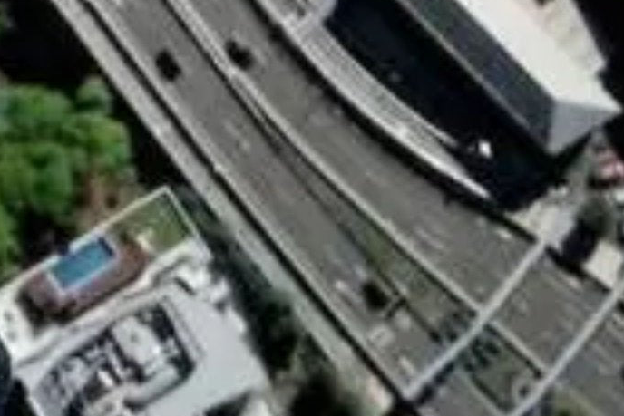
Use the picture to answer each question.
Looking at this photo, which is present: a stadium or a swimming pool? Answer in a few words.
swimming pool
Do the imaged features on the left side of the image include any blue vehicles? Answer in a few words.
No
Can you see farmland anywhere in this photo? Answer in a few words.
No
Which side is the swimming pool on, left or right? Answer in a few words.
left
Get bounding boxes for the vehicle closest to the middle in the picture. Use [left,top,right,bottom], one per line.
[355,274,396,318]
